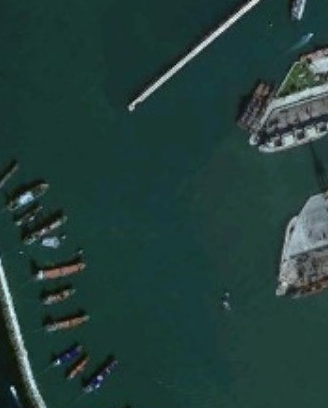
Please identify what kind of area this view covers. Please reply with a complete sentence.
The picture captures a port.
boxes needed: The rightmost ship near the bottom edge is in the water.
[81,362,118,393]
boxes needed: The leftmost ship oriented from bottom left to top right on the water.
[0,163,18,187]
